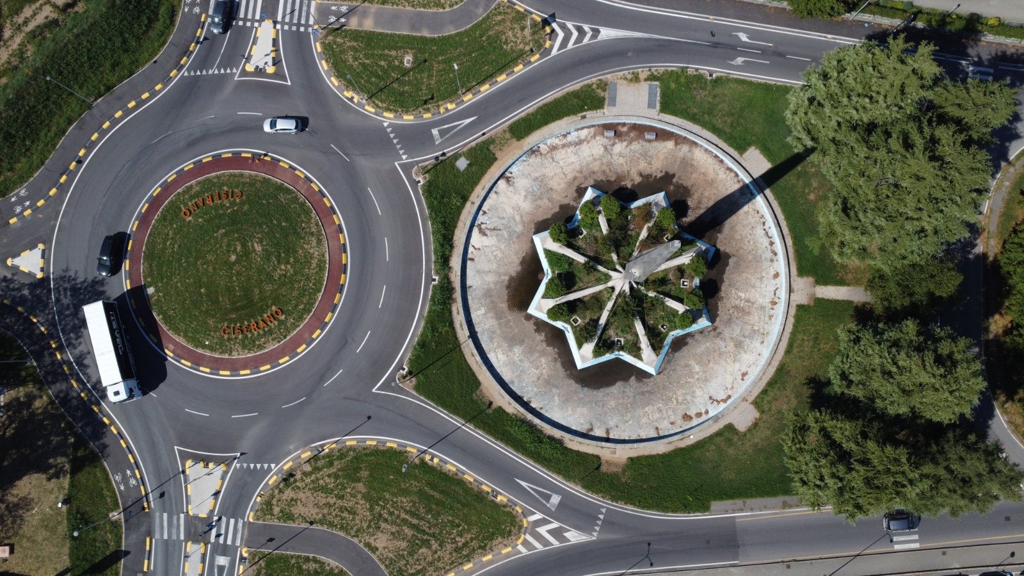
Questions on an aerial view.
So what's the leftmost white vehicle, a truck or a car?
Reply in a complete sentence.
Specifically, the leftmost white vehicle is a truck.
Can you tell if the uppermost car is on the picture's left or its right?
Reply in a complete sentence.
The uppermost car sits on the left side.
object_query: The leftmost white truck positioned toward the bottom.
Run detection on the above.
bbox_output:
[82,300,146,409]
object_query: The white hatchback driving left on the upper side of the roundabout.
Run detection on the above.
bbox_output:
[264,117,301,136]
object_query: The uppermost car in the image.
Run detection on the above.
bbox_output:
[210,0,234,34]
